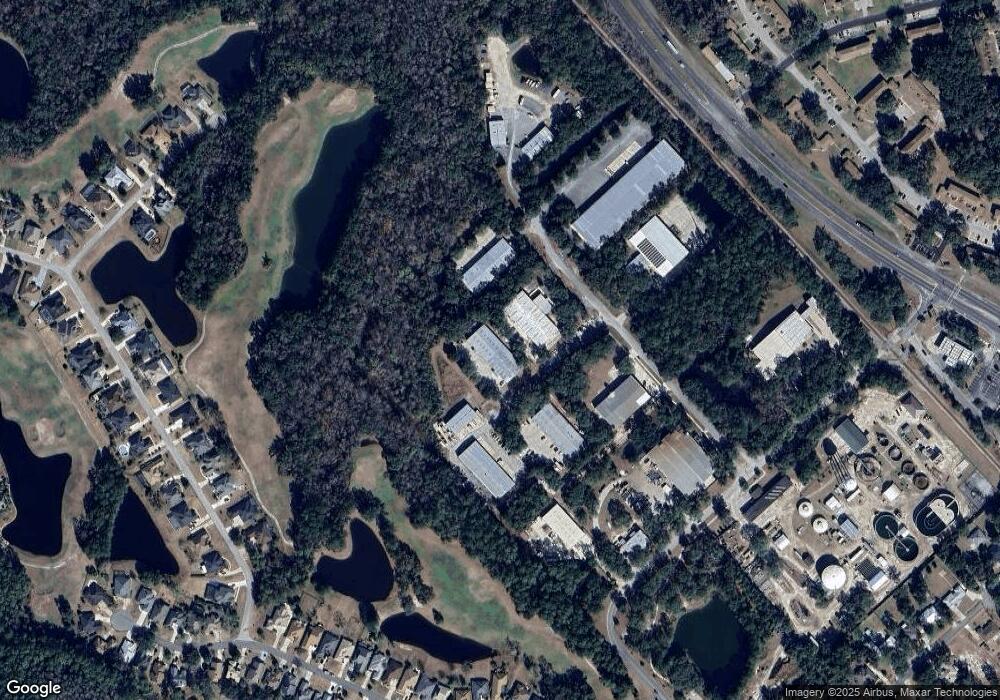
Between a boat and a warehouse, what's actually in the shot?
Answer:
warehouse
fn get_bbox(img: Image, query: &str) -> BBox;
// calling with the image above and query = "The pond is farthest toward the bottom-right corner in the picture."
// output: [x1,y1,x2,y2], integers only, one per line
[664,595,753,696]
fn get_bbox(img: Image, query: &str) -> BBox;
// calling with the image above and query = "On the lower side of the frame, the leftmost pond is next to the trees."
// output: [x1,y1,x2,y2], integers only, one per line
[0,401,74,558]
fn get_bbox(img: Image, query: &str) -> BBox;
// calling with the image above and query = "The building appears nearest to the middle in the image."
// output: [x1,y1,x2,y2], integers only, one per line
[467,326,520,383]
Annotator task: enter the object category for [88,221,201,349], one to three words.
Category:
pond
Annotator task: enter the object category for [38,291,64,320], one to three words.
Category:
house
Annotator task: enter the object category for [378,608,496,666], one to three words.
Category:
pond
